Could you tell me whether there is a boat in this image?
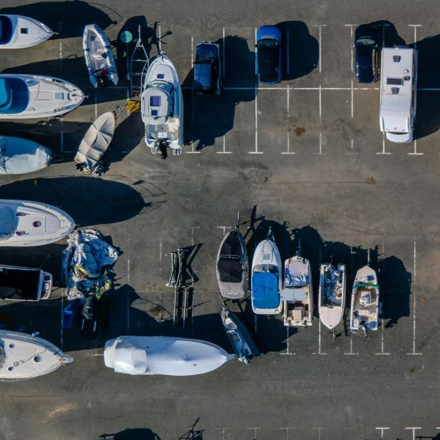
Yes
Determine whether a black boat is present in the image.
Yes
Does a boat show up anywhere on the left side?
Yes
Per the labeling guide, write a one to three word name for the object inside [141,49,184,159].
boat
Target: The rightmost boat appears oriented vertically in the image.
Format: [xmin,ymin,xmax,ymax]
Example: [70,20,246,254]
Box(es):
[352,266,382,344]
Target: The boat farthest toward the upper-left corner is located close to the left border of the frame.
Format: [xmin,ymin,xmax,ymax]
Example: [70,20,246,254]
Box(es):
[0,14,57,51]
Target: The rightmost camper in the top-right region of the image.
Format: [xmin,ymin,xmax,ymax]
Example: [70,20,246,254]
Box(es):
[380,45,417,143]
